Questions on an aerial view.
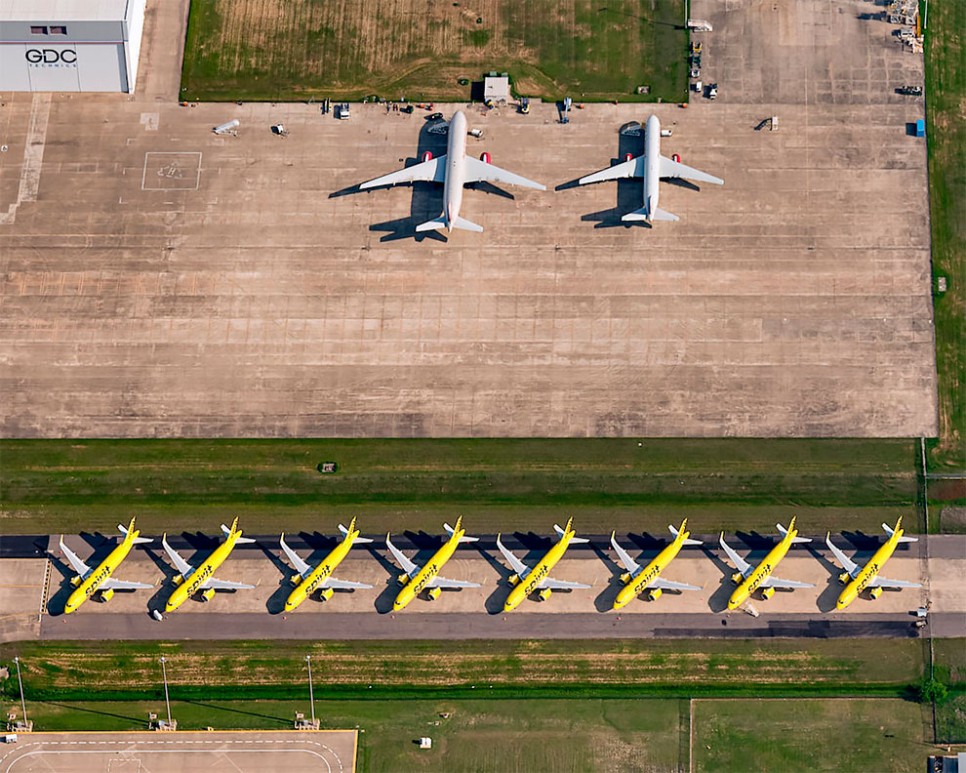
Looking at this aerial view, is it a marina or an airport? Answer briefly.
airport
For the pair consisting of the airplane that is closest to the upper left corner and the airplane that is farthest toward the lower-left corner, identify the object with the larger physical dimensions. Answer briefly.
the airplane that is closest to the upper left corner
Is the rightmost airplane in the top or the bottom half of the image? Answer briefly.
bottom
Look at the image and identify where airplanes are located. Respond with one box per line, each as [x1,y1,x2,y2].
[279,518,376,612]
[386,518,484,612]
[607,518,705,610]
[360,108,545,232]
[61,519,158,613]
[717,518,818,610]
[579,113,724,220]
[161,519,257,613]
[824,517,926,610]
[495,518,595,612]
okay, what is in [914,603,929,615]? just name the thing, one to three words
vehicle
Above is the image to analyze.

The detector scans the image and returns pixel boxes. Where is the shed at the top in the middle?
[484,78,513,107]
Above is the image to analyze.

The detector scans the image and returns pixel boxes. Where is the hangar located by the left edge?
[0,0,143,92]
